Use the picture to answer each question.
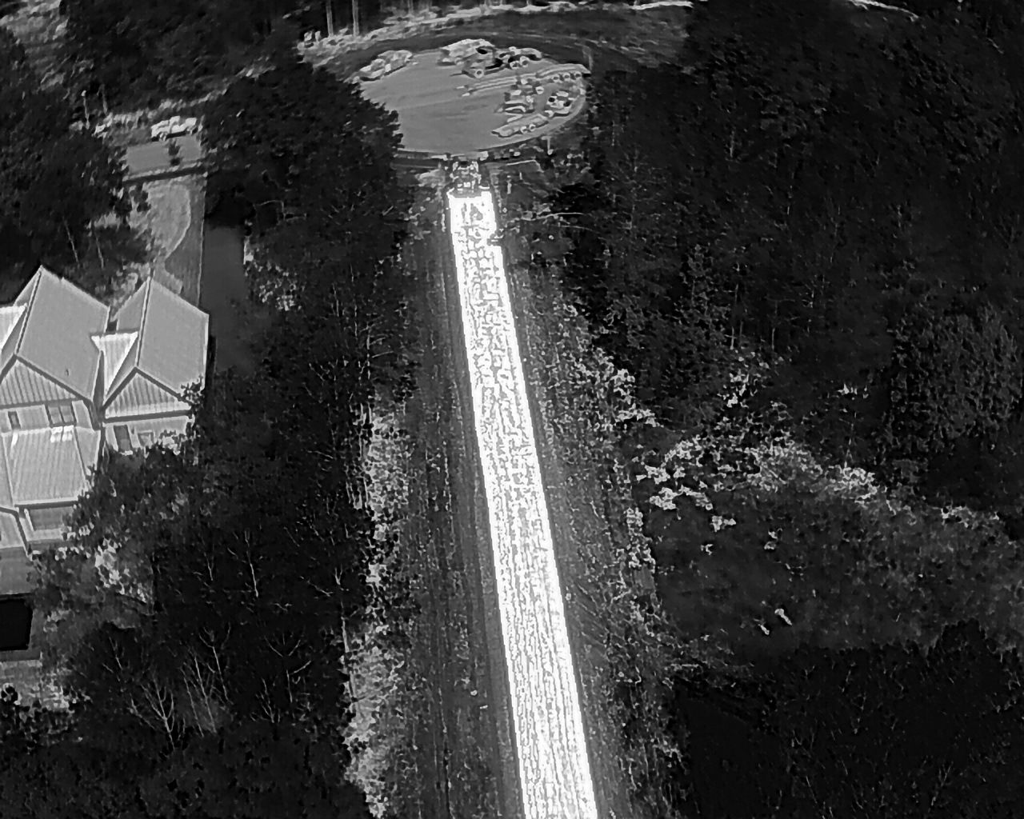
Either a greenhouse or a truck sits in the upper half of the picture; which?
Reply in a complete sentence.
Looking in the upper half of the picture, you will find a truck.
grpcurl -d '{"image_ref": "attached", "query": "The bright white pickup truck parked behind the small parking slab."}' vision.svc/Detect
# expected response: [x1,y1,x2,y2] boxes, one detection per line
[149,116,201,143]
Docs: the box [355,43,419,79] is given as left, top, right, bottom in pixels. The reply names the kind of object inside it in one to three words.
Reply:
truck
